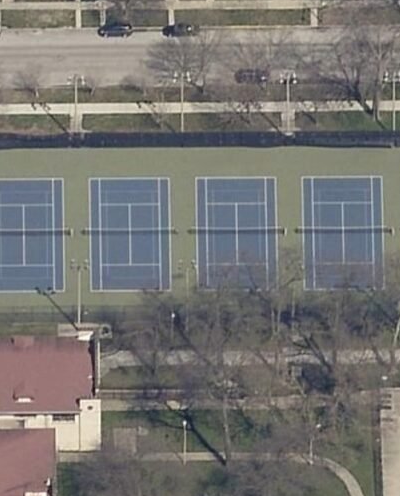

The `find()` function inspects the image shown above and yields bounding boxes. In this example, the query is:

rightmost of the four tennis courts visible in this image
[301,175,385,289]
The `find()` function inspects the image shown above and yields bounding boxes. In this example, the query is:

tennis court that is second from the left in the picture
[89,177,172,291]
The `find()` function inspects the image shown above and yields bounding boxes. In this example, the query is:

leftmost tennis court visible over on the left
[0,177,65,291]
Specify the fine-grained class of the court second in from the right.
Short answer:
tennis court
